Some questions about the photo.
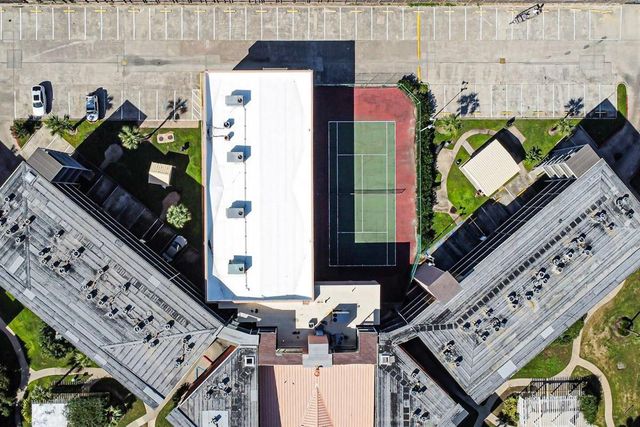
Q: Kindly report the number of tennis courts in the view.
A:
1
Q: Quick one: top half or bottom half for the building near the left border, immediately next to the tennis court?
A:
bottom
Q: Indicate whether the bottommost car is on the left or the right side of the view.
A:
left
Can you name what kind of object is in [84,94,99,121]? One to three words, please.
car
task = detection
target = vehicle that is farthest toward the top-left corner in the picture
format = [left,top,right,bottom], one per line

[31,86,46,116]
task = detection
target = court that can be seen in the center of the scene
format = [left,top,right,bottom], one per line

[314,86,417,287]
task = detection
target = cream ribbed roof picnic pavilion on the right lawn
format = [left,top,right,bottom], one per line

[458,139,521,198]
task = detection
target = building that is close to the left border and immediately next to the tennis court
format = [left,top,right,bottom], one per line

[0,163,235,409]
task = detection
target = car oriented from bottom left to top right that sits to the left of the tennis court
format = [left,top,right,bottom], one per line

[164,233,188,262]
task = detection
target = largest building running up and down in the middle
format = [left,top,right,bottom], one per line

[203,68,314,303]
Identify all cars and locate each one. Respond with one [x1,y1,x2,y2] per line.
[164,233,188,262]
[31,86,46,116]
[84,94,99,121]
